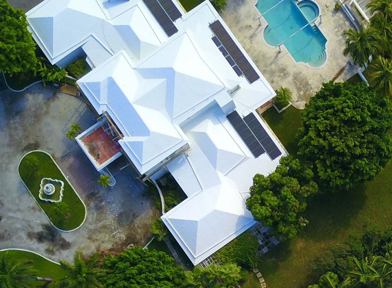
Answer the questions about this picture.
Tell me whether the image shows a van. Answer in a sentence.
No, there isn't any van down there.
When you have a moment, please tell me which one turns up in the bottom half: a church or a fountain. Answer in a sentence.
The one visible in the bottom half is a fountain.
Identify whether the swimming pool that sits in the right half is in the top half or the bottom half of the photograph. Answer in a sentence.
The top half of the photo is where the swimming pool that sits in the right half is.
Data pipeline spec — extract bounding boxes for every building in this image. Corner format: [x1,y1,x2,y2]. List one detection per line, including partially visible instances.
[28,0,284,266]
